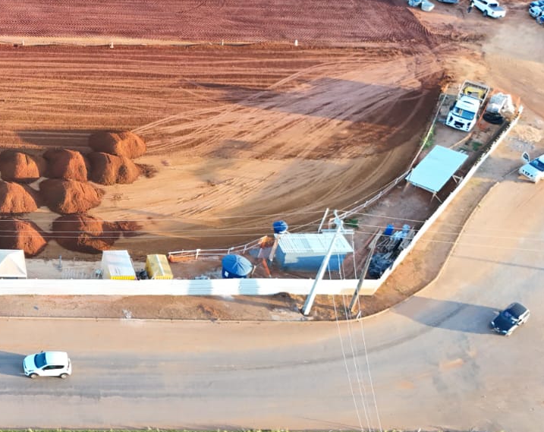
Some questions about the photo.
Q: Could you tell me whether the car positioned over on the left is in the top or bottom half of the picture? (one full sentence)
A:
It is in the bottom half that the car positioned over on the left appears.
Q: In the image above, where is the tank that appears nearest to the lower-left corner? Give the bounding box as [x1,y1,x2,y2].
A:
[222,253,254,280]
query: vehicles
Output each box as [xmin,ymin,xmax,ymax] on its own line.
[450,69,488,135]
[531,5,544,20]
[521,154,544,185]
[467,0,513,20]
[530,0,544,8]
[491,304,535,338]
[23,355,71,381]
